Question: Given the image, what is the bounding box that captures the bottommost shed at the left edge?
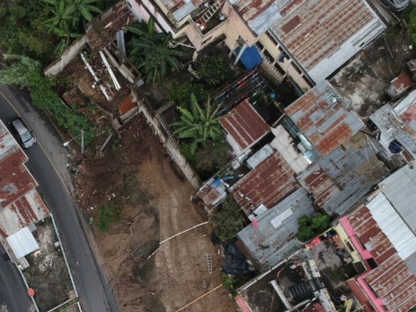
[6,230,39,258]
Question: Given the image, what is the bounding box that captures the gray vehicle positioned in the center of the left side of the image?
[6,114,41,151]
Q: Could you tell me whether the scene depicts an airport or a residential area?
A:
residential area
